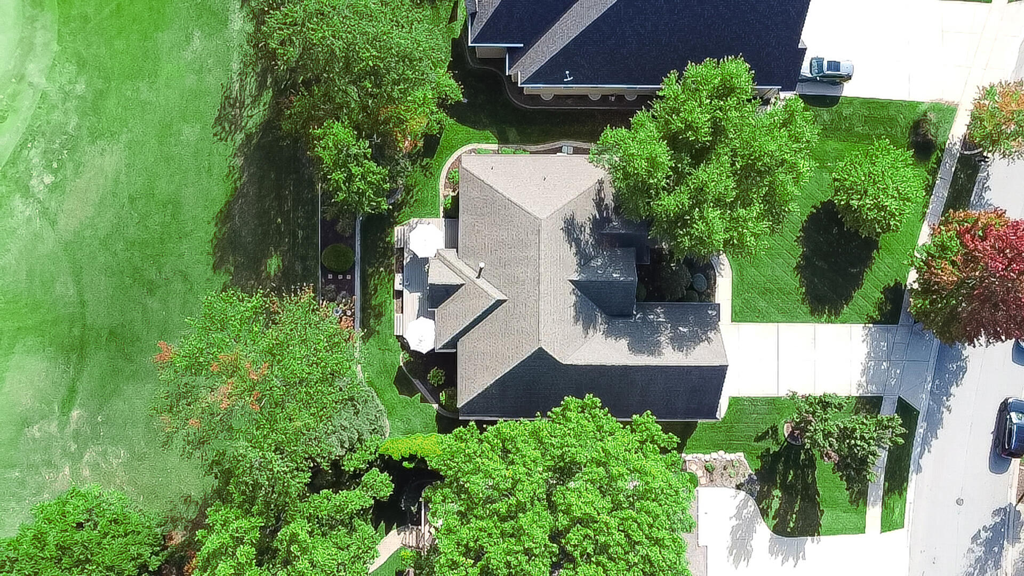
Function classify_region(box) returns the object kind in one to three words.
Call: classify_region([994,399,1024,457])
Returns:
car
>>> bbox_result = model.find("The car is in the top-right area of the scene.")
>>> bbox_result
[796,56,853,84]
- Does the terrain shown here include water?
No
